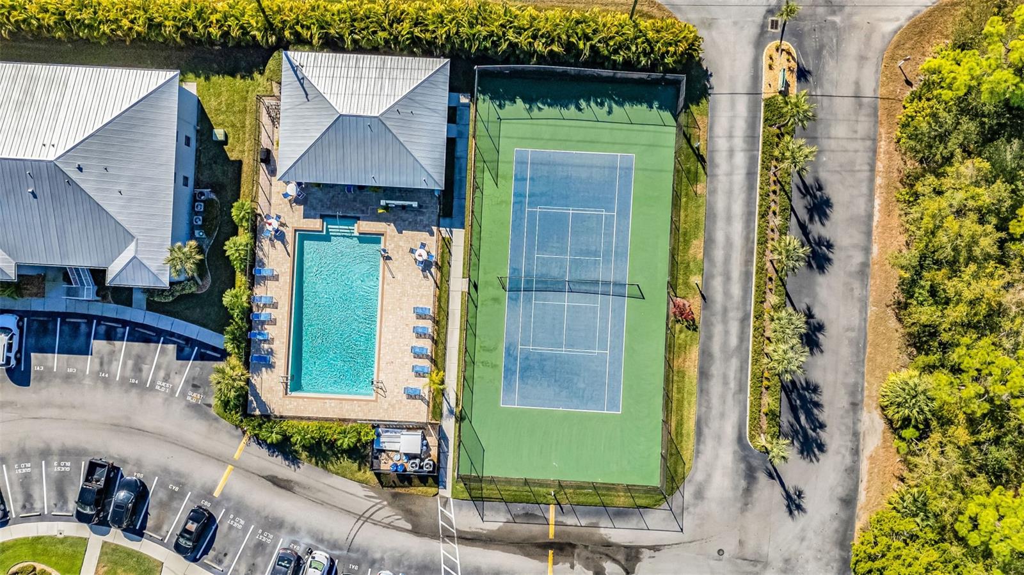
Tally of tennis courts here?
1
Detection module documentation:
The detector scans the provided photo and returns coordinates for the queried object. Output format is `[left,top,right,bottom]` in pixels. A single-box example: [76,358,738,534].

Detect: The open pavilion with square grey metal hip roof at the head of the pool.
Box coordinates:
[277,50,451,190]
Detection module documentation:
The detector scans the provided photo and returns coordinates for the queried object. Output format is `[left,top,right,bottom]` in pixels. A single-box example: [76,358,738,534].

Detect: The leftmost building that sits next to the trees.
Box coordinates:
[0,62,198,288]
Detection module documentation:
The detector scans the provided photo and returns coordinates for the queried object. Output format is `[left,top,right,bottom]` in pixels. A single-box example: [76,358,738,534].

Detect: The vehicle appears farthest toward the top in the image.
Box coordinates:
[0,314,22,368]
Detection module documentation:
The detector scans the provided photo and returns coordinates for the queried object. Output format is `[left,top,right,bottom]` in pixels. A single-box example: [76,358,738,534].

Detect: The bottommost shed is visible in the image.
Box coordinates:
[373,431,422,457]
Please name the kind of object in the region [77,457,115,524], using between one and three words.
truck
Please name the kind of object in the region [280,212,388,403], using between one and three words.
swimming pool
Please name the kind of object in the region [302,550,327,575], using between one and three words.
car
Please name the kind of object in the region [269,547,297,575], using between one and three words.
car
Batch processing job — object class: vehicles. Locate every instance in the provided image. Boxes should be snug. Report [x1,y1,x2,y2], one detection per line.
[77,457,115,524]
[269,547,297,575]
[0,314,22,368]
[376,569,396,575]
[302,550,327,575]
[301,545,312,564]
[0,480,8,525]
[177,505,212,557]
[108,475,146,532]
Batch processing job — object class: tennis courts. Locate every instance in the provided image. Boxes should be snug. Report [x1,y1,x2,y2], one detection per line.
[459,74,678,487]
